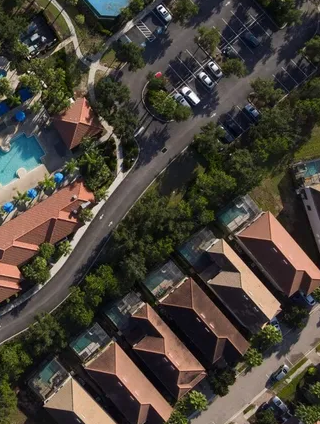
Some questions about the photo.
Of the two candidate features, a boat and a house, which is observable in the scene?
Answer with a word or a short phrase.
house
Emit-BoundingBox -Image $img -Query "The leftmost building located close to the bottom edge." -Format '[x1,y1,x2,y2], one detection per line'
[43,371,117,424]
